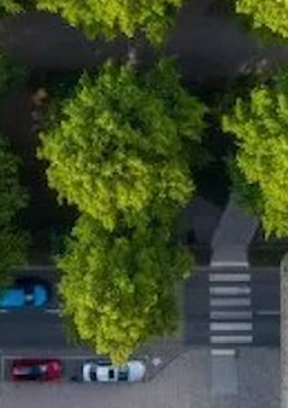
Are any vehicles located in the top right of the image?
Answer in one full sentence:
No, no vehicle appears in the top right of the image.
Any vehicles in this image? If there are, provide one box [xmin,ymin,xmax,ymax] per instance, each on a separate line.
[86,355,146,384]
[0,279,47,307]
[13,355,65,382]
